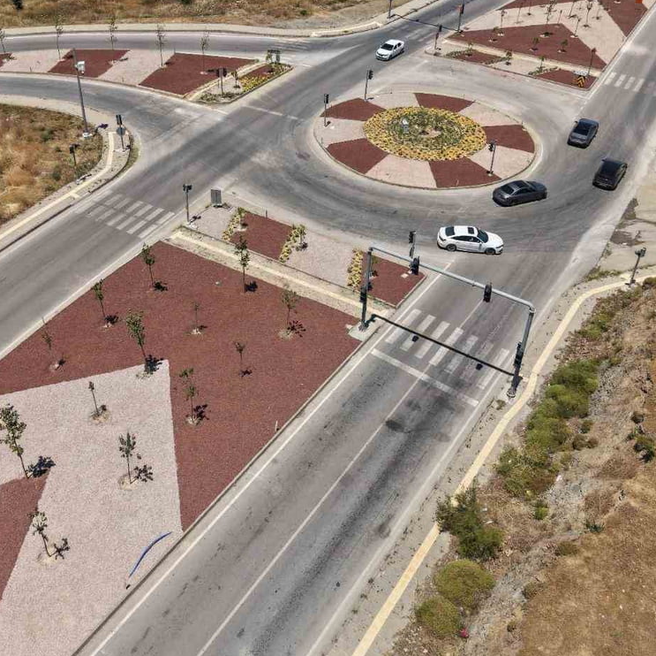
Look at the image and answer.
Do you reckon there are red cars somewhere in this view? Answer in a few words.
No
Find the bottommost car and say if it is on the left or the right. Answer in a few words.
right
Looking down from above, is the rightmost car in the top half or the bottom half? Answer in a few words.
top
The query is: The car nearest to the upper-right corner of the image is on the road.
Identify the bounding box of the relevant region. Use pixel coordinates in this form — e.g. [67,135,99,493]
[571,116,599,139]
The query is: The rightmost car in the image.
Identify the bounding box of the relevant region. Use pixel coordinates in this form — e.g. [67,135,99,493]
[596,156,628,183]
